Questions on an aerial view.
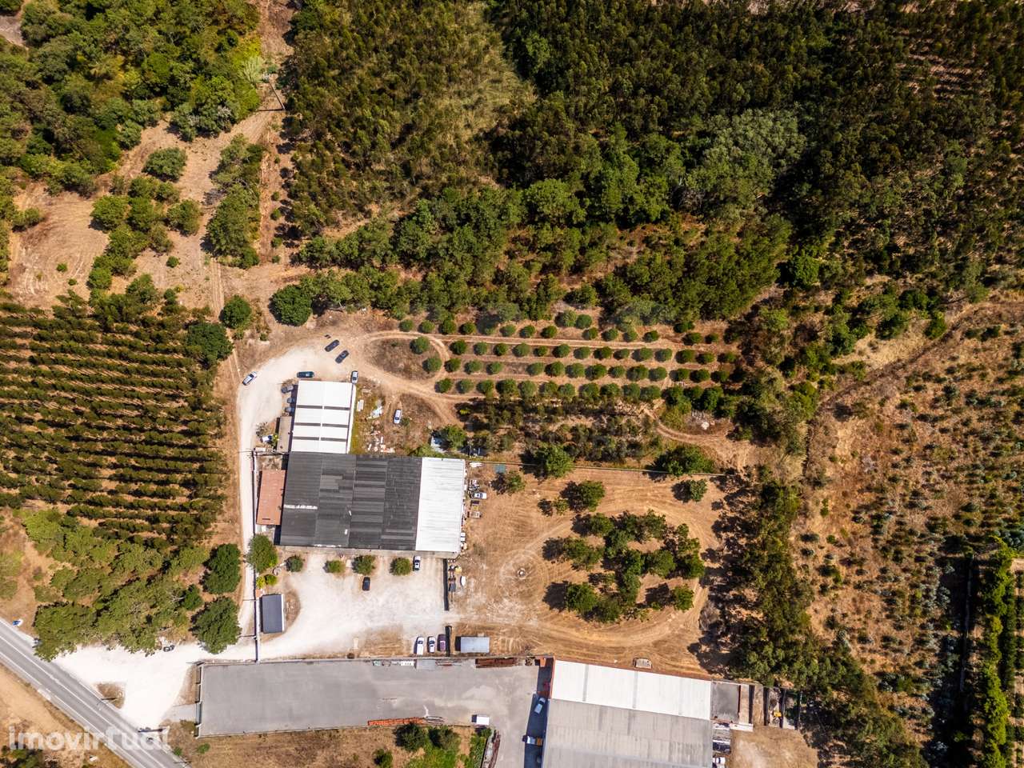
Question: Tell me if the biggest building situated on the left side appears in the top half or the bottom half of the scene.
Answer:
bottom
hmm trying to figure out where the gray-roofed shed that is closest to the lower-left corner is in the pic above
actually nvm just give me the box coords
[262,591,286,633]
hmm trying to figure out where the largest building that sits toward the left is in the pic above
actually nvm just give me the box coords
[280,452,466,553]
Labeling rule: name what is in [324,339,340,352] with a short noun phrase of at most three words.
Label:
vehicle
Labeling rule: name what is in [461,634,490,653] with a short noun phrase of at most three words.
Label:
shed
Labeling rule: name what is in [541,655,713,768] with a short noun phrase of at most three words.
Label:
shed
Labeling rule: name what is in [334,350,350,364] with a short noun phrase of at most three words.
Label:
car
